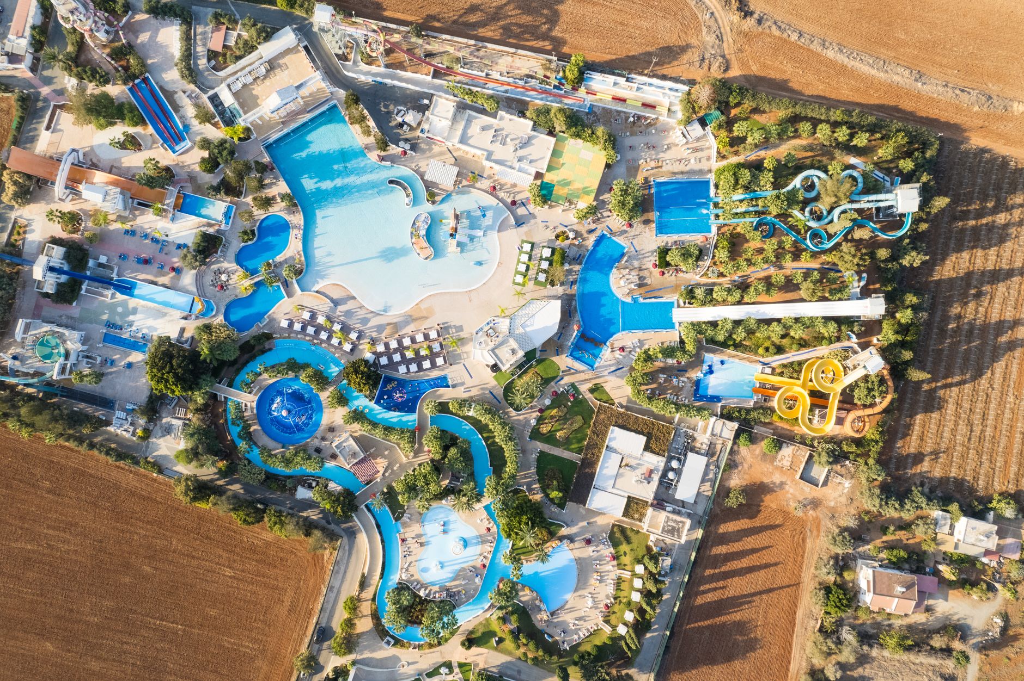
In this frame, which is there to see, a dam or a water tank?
water tank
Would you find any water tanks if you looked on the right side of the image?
Yes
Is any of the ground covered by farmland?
Yes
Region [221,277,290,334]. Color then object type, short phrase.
blue swimming pool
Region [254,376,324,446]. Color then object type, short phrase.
blue swimming pool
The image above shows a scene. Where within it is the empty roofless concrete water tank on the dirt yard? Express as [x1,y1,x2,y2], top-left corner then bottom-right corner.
[793,450,828,489]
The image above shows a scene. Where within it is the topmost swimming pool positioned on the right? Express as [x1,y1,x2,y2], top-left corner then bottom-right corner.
[650,175,715,240]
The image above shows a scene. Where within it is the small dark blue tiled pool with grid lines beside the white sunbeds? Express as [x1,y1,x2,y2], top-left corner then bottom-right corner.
[100,331,152,355]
